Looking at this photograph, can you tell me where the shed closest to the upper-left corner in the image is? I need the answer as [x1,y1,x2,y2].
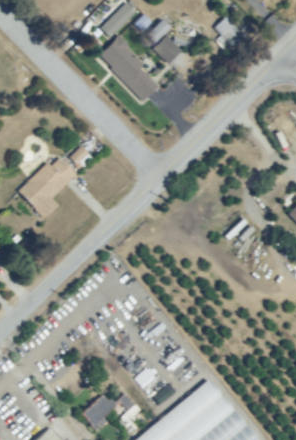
[102,2,136,35]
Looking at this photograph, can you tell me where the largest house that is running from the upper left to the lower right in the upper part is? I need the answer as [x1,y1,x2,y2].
[101,38,160,100]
